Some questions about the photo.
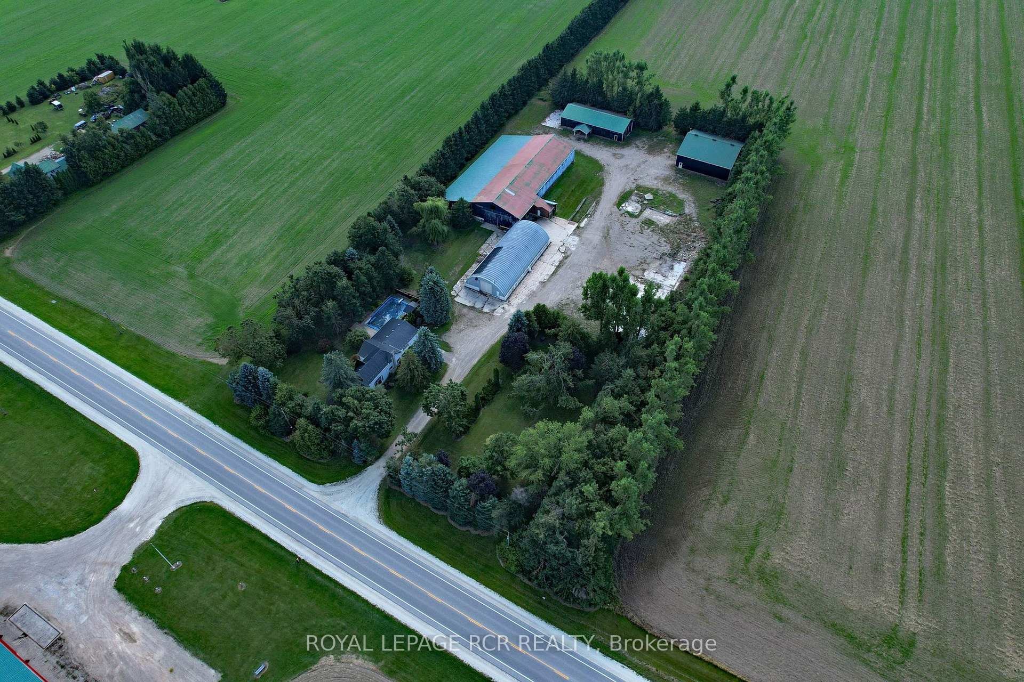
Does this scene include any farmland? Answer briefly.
Yes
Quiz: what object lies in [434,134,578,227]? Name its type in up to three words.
barn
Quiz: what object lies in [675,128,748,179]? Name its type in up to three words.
shed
